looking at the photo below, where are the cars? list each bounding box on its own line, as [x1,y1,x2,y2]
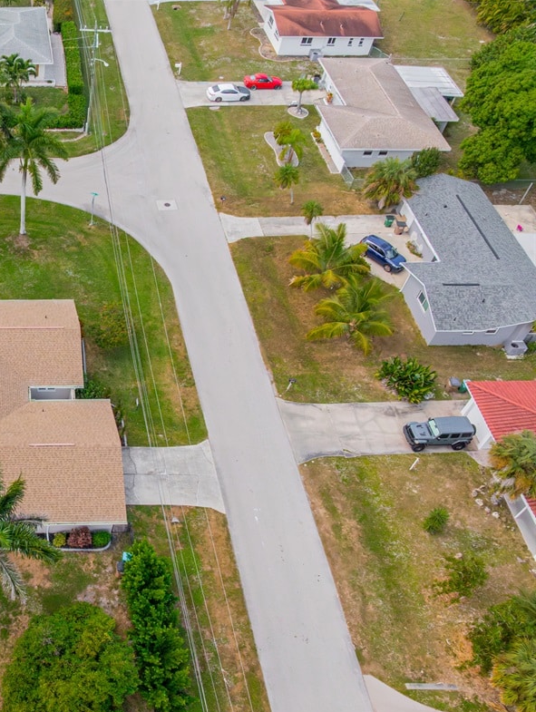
[205,79,254,99]
[405,415,482,450]
[358,233,411,275]
[242,69,286,87]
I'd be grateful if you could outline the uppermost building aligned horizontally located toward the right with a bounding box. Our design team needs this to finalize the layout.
[262,0,384,55]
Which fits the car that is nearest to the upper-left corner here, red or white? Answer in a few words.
white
